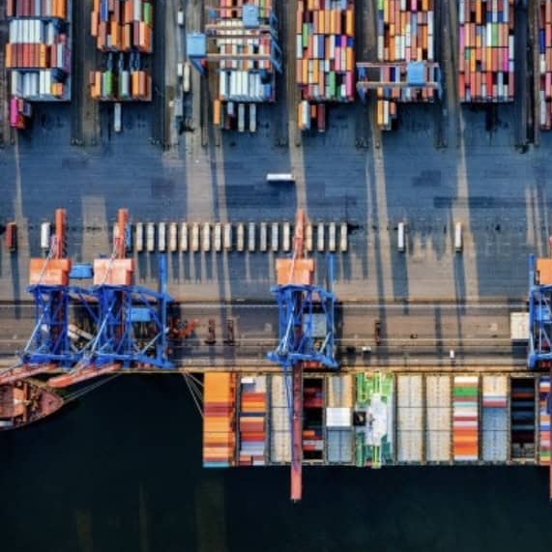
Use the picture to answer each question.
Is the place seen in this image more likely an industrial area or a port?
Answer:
port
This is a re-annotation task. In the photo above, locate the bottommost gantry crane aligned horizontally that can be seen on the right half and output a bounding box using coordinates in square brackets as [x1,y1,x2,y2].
[357,63,442,96]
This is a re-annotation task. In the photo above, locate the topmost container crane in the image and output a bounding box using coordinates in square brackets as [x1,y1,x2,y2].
[206,9,285,40]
